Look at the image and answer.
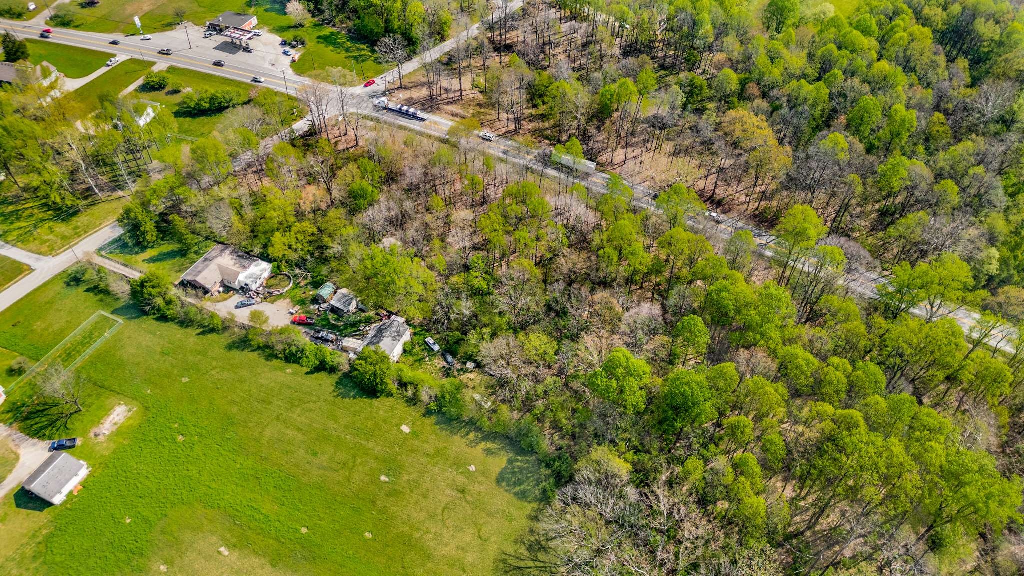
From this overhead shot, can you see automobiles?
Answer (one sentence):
Yes, this view includes an automobile.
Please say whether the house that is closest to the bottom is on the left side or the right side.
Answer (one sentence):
It is on the left.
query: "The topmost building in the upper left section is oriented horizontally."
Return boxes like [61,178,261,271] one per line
[210,11,255,33]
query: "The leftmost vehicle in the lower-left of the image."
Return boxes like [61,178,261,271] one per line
[48,437,79,451]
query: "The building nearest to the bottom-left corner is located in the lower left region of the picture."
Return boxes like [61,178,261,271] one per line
[20,450,93,507]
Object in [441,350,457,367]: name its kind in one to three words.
car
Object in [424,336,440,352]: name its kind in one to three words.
car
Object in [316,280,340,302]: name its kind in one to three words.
shed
